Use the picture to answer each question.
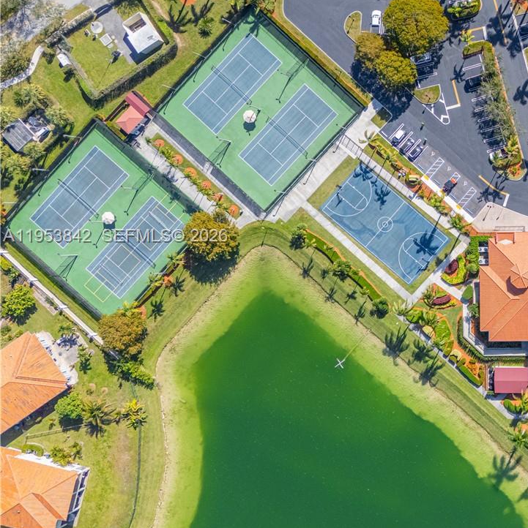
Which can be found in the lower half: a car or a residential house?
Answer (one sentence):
The feature located in the lower half is a residential house.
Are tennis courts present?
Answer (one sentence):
Yes, you can see a tennis court in this photo.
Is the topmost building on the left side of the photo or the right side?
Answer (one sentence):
The topmost building is on the left side of the image.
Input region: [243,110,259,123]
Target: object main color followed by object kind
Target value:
white umbrella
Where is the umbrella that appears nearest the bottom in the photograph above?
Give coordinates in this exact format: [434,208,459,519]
[103,210,120,224]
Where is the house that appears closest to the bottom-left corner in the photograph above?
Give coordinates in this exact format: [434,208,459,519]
[0,451,96,528]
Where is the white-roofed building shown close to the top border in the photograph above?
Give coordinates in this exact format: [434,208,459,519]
[122,11,168,53]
